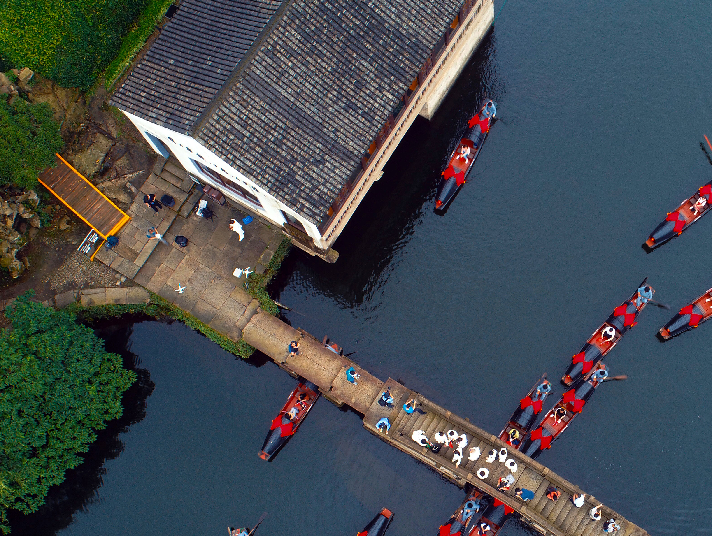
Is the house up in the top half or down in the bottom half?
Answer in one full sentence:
You can find the house in the top half.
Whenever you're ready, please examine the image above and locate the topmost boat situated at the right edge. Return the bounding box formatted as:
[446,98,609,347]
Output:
[641,180,712,252]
